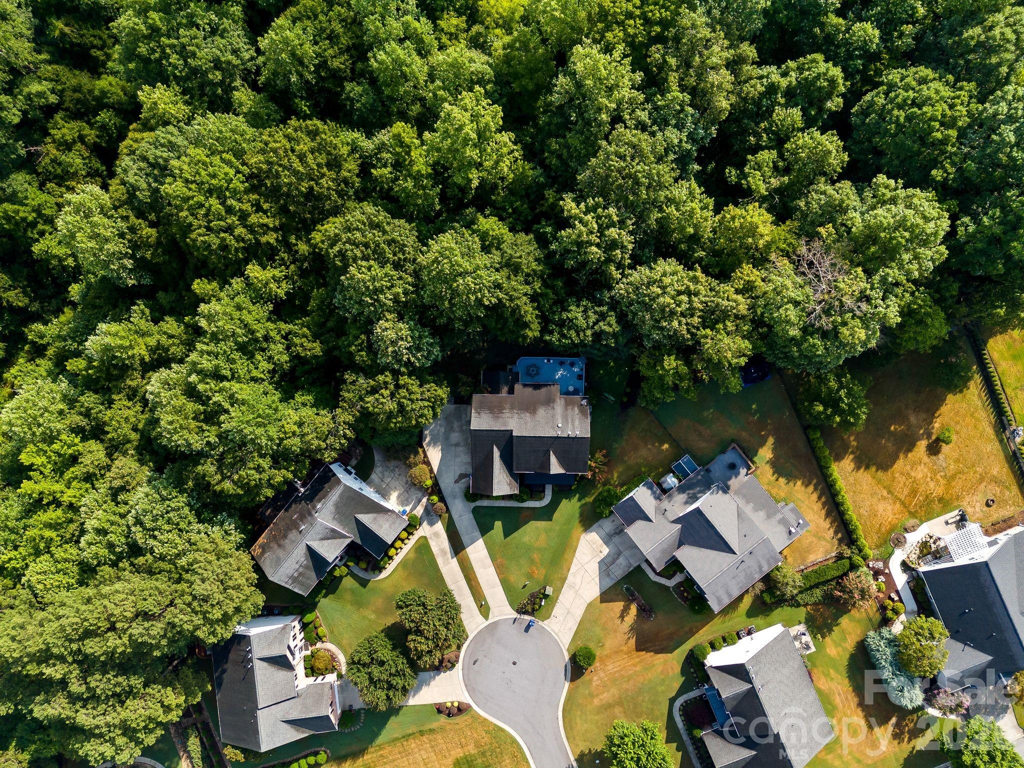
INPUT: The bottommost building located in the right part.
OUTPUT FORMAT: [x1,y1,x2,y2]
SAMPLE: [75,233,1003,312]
[701,624,835,768]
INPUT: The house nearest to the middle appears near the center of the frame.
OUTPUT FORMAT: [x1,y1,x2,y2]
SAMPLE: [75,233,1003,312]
[470,354,591,496]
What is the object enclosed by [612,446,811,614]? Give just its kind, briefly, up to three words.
house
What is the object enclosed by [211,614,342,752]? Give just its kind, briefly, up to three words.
house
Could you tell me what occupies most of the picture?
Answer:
trees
